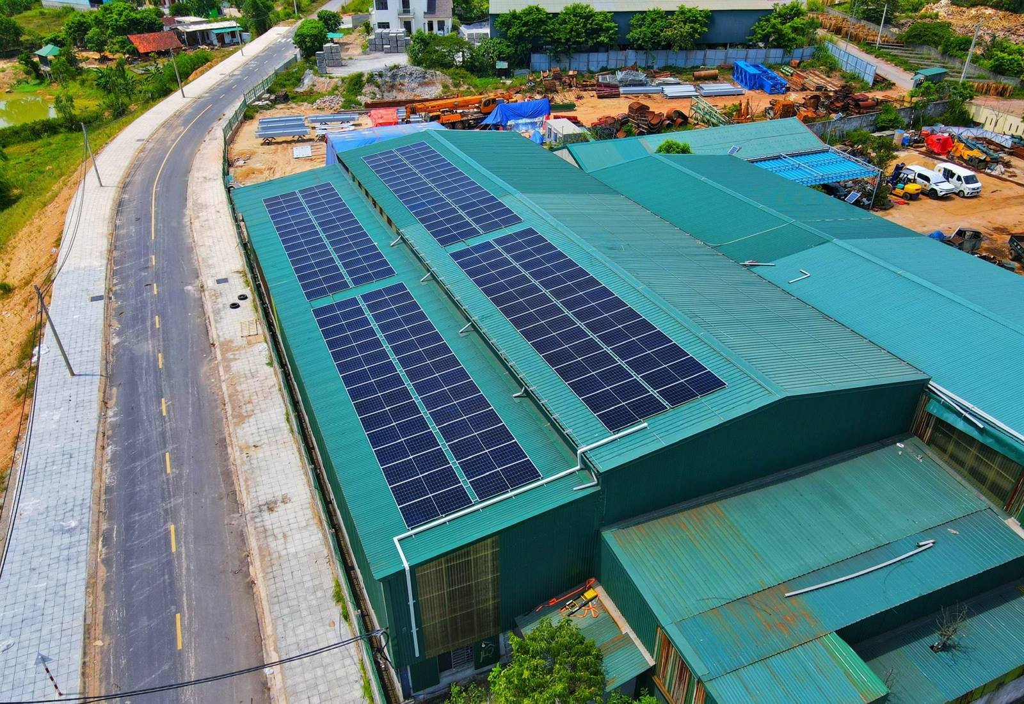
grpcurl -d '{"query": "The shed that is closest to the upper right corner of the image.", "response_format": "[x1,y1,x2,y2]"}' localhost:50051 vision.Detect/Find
[913,62,961,87]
